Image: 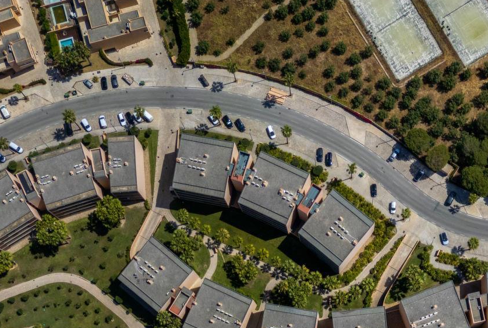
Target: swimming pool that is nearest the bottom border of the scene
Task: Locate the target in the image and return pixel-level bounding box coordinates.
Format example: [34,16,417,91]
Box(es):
[57,27,82,55]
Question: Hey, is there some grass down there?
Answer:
Yes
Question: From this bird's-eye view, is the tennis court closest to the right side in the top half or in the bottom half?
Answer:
top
